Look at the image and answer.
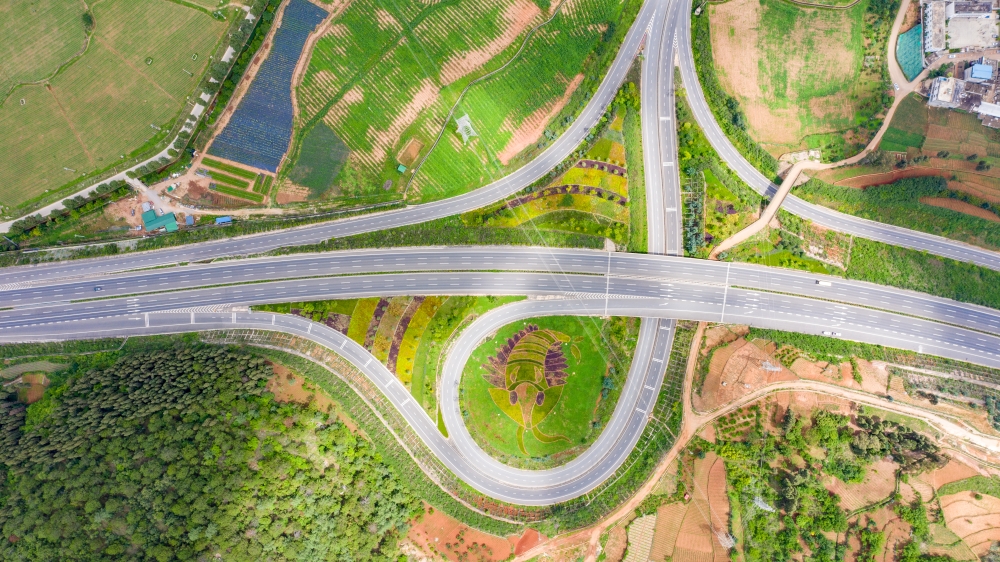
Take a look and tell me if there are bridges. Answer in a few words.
Yes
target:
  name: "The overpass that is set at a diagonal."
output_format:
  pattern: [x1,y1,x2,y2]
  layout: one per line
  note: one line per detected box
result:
[748,162,811,236]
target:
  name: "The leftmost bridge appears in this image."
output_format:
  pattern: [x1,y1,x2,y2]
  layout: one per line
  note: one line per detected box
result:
[605,250,729,322]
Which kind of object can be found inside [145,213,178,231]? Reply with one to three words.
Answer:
shed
